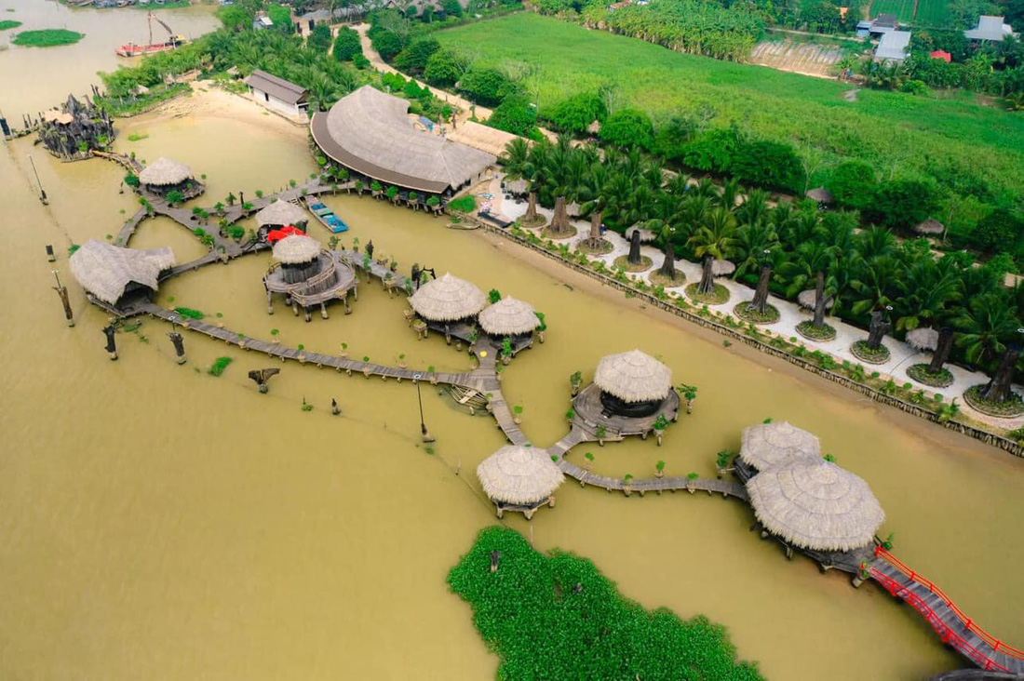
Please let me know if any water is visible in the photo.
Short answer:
Yes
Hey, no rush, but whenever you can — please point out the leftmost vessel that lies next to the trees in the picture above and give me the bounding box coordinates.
[117,9,187,55]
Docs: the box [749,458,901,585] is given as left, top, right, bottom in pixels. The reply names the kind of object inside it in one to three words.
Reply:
building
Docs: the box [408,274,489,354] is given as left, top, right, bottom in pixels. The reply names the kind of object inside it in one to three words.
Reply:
building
